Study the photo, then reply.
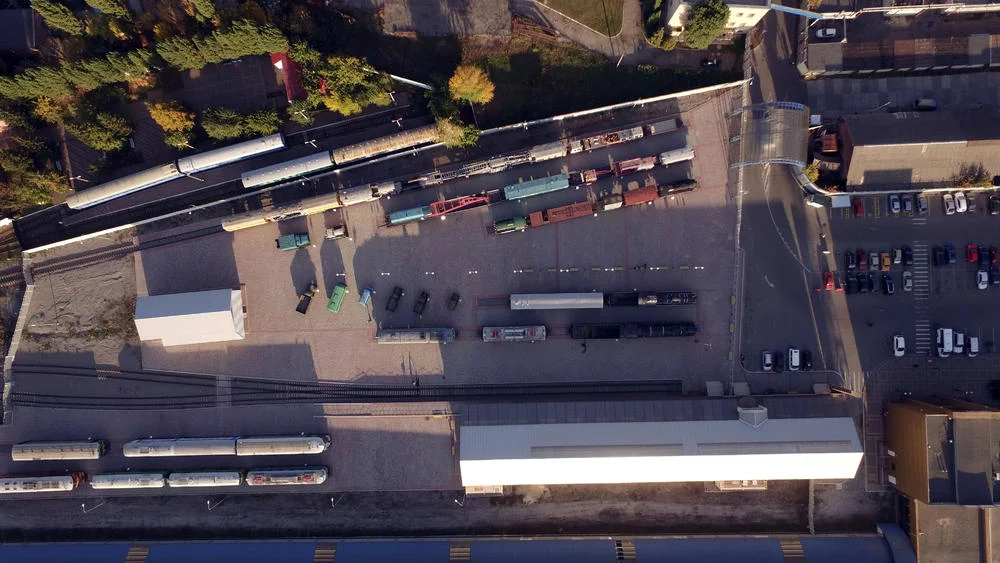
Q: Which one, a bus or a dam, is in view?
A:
bus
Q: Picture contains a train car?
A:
Yes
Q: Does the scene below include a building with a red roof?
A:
Yes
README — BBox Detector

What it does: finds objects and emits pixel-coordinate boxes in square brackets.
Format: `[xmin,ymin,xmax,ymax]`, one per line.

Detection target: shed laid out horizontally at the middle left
[134,289,246,345]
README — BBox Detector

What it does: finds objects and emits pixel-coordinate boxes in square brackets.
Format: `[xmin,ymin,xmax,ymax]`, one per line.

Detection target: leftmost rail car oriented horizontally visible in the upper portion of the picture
[225,192,343,235]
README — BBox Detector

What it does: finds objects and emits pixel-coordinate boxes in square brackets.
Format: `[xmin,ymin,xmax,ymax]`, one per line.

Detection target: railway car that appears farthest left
[0,470,79,491]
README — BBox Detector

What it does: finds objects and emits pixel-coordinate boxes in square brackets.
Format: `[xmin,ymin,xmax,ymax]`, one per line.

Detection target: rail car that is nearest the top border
[643,117,683,139]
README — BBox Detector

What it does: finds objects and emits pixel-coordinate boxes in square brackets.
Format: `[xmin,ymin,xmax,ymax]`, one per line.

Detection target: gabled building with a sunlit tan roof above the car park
[837,111,1000,191]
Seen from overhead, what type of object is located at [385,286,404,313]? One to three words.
vehicle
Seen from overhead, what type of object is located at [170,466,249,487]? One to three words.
rail car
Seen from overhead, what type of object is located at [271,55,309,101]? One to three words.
building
